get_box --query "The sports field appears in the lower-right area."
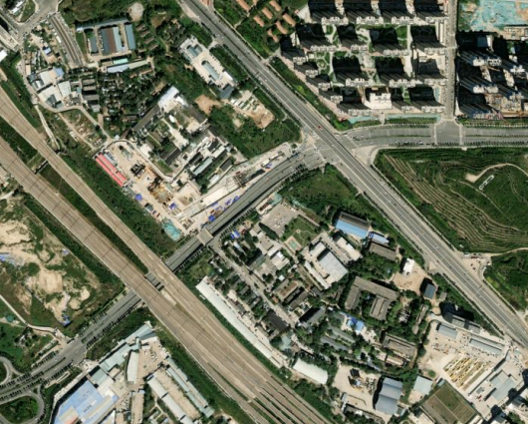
[421,378,477,424]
